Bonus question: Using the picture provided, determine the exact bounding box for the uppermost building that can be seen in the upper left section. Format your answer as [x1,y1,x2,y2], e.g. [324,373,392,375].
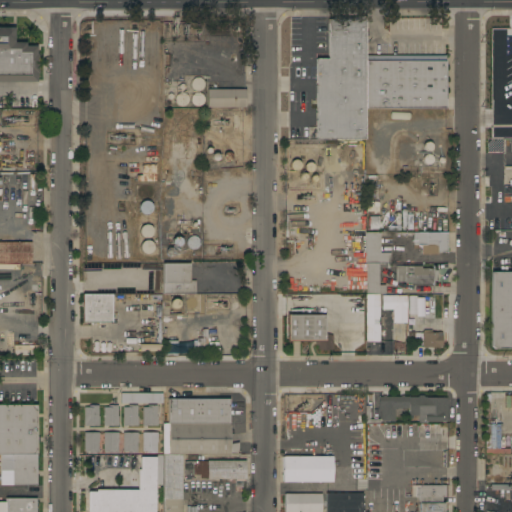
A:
[0,26,38,81]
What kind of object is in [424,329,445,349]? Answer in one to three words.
house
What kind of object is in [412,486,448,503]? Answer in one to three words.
building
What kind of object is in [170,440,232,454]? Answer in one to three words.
building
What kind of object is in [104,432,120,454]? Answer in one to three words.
house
